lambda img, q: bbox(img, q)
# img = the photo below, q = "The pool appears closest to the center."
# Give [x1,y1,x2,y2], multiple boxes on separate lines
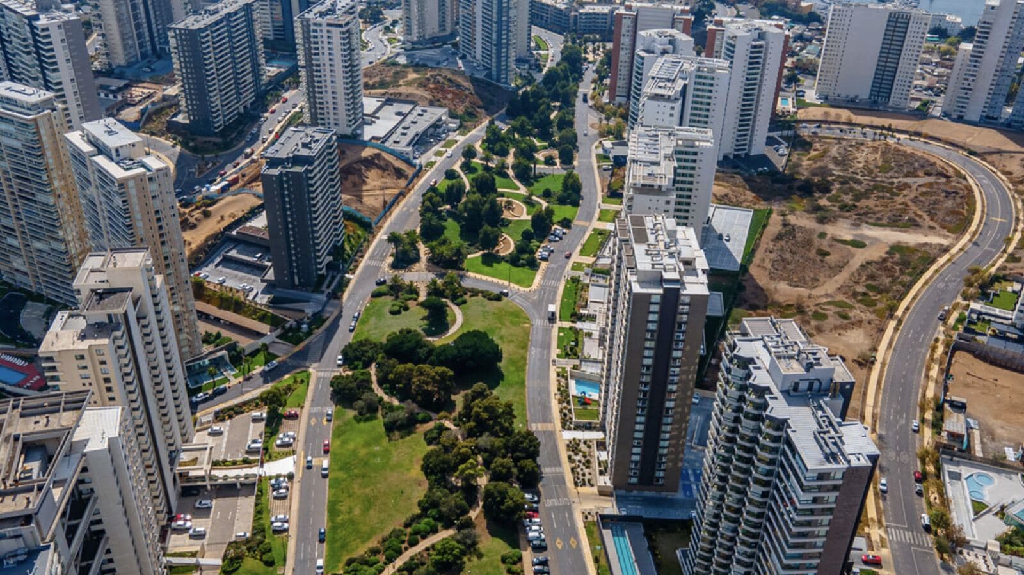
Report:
[573,378,596,396]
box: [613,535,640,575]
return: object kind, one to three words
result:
swimming pool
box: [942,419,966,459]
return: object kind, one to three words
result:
shed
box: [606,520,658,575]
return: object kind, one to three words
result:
building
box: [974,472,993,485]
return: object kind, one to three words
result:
swimming pool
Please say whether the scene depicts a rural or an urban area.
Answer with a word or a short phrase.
urban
